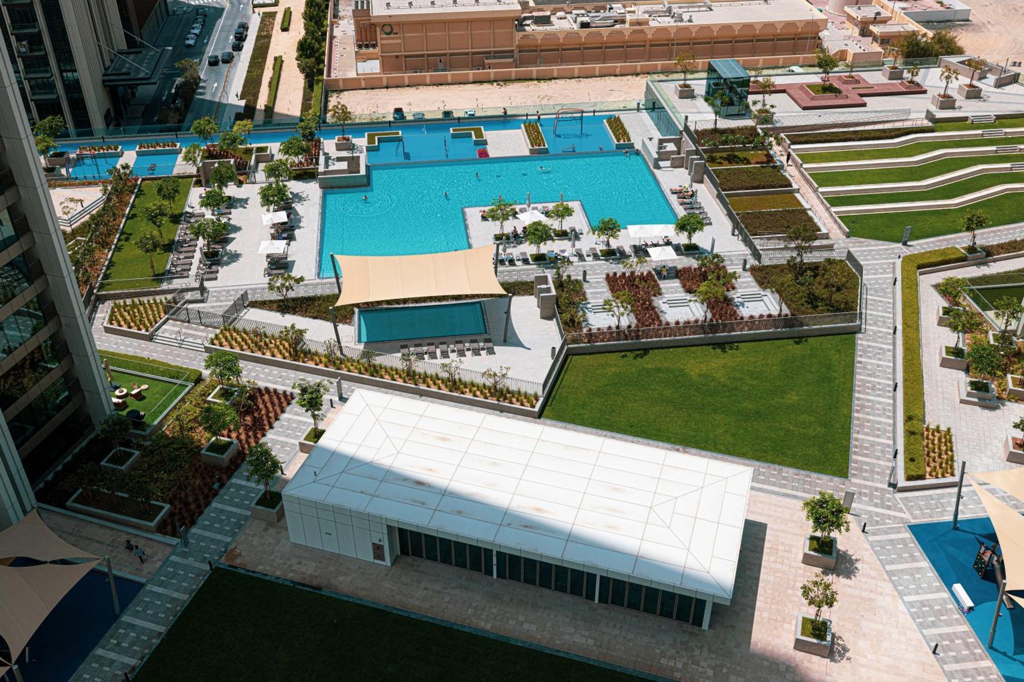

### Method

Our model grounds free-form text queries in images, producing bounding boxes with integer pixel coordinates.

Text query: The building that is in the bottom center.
[282,389,753,632]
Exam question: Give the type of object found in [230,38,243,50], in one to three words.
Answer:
vehicle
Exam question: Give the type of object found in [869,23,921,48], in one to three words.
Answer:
shed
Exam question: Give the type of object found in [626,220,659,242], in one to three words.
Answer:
umbrella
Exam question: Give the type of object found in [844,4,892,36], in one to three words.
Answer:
shed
